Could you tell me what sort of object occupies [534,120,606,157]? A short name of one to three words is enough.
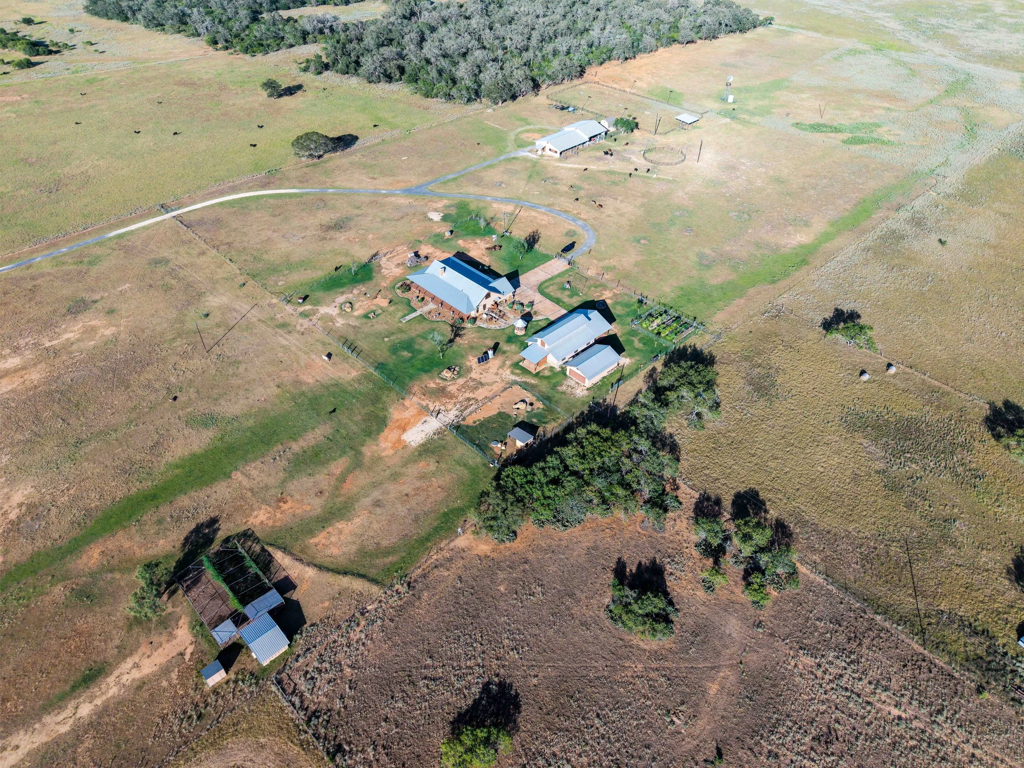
barn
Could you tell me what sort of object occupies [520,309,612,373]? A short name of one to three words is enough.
building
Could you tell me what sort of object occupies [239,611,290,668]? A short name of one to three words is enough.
shed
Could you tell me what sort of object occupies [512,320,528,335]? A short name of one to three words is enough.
gazebo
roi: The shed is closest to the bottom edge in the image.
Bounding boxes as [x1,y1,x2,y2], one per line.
[200,660,227,686]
